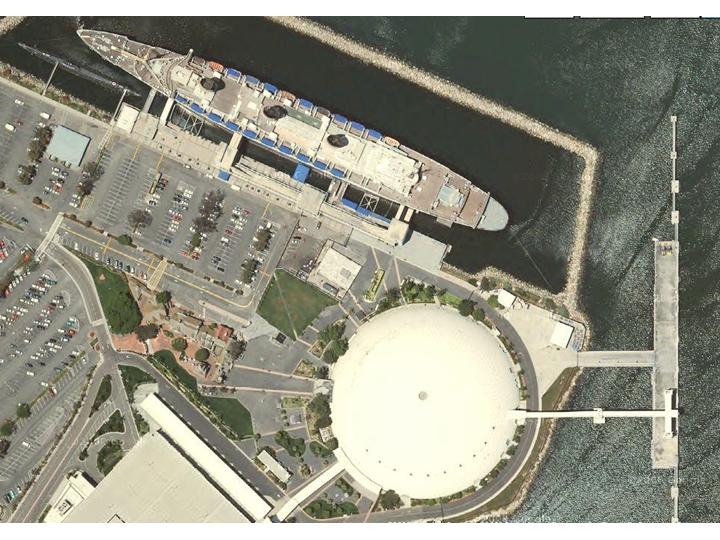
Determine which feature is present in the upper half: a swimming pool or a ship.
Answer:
ship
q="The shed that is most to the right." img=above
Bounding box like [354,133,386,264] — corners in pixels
[550,322,573,349]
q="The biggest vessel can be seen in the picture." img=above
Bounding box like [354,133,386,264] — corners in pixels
[76,25,508,231]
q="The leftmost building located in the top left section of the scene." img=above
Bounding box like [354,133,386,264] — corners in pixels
[48,124,91,167]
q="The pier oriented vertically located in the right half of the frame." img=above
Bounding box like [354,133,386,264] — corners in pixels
[653,241,680,468]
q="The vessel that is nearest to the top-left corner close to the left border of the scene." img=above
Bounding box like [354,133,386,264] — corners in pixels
[22,46,132,93]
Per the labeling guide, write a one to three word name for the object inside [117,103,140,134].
building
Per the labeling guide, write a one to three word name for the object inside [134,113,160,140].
building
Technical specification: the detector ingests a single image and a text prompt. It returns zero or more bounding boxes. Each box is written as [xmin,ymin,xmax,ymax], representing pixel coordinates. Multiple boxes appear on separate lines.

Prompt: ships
[22,46,132,93]
[76,25,508,231]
